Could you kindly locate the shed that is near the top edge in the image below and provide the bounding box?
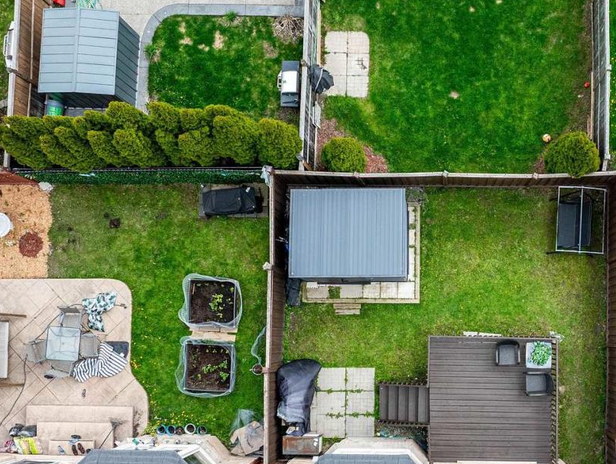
[39,4,140,109]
